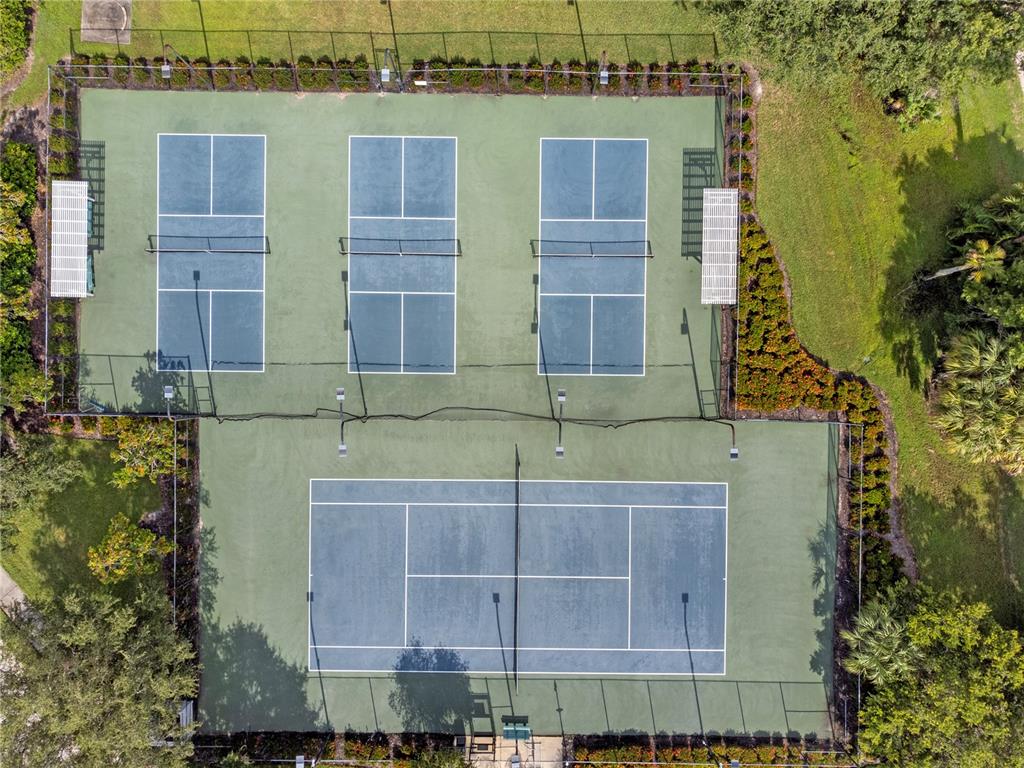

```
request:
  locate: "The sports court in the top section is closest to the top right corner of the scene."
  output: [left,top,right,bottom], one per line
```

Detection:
[538,138,648,377]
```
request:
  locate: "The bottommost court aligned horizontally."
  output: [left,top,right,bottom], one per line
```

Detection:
[307,479,728,676]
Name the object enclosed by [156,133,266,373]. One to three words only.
sports court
